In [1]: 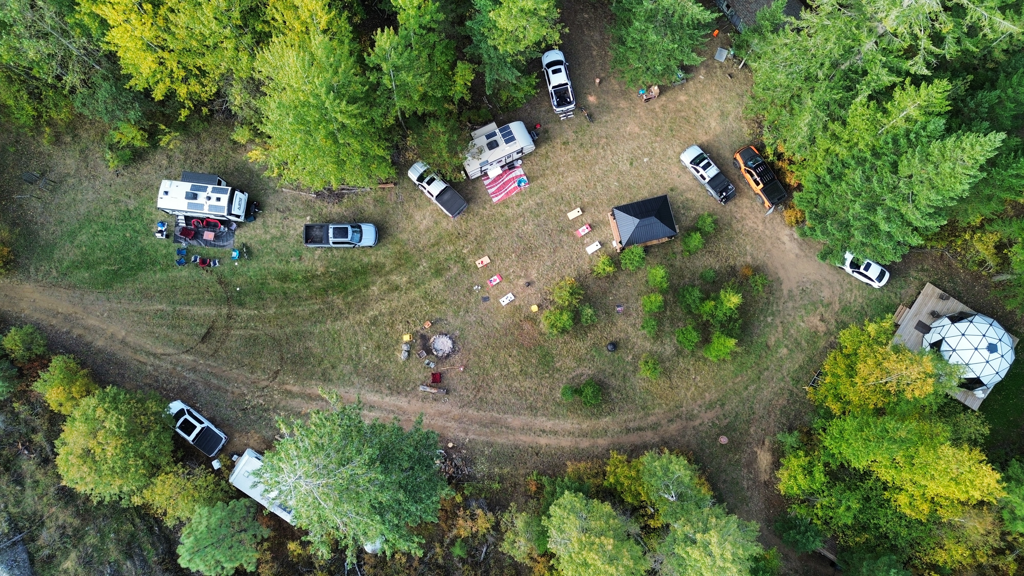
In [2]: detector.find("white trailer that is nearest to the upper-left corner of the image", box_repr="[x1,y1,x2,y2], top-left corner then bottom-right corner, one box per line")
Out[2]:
[159,171,259,227]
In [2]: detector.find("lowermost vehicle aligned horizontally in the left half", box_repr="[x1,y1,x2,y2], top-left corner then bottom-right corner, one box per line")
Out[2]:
[302,221,381,250]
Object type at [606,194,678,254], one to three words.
building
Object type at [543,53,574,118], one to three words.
truck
